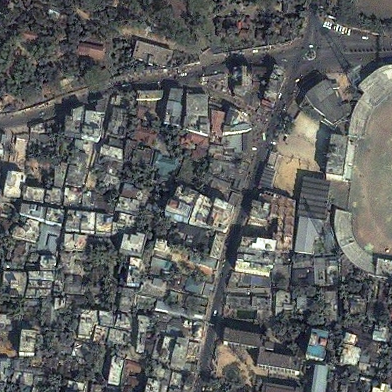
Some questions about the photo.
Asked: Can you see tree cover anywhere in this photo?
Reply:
Yes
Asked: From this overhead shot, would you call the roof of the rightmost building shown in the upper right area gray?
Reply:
Yes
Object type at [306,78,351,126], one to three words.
building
